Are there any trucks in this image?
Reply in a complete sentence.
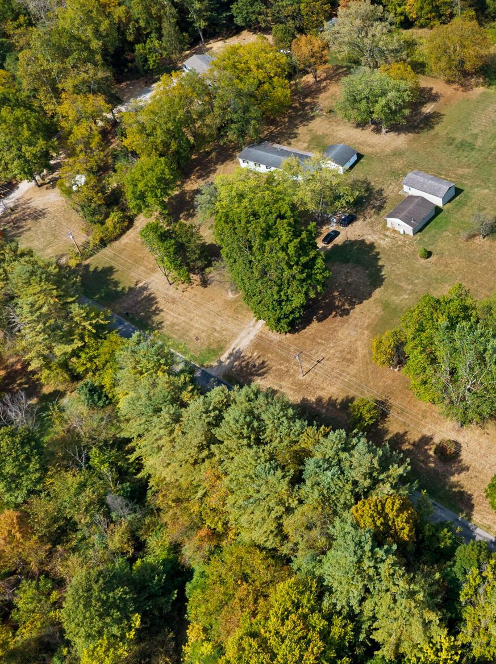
No, there is no truck in the image.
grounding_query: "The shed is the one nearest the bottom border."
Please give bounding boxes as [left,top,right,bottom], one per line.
[385,194,437,234]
